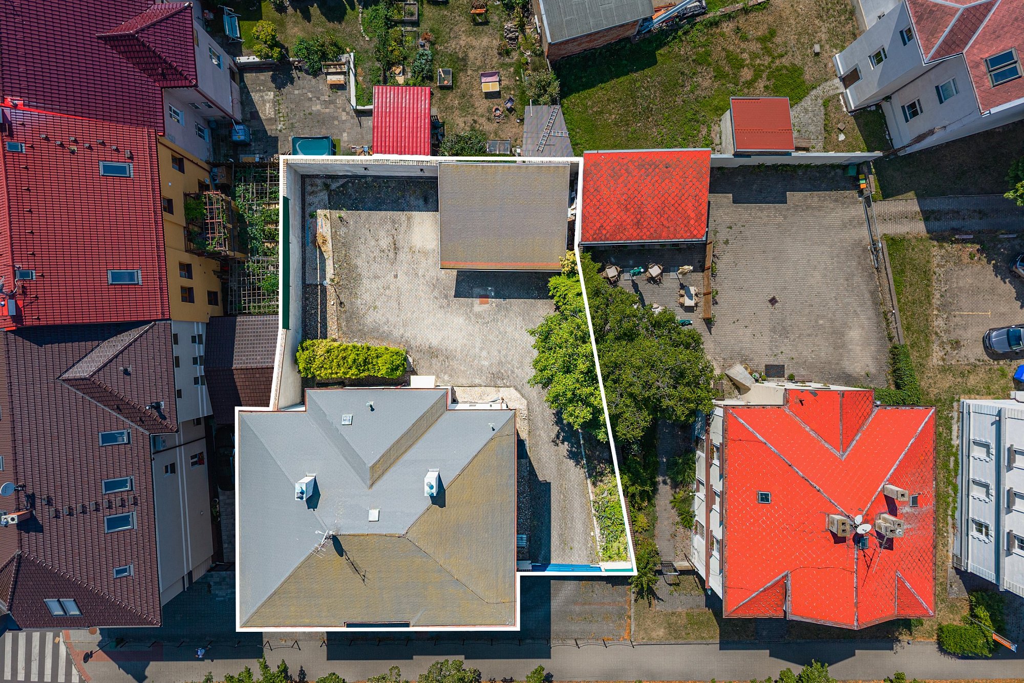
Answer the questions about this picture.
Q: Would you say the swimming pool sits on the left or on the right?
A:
left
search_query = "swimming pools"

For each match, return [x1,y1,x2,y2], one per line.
[291,136,337,157]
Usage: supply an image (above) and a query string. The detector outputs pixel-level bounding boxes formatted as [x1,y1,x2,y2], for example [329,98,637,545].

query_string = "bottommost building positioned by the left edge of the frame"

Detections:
[0,323,215,629]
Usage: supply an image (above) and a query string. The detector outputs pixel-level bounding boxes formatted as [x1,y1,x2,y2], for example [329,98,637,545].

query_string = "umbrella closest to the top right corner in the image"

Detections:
[670,267,694,279]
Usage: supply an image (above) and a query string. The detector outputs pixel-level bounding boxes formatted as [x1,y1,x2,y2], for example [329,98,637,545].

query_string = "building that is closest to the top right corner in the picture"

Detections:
[834,0,1024,156]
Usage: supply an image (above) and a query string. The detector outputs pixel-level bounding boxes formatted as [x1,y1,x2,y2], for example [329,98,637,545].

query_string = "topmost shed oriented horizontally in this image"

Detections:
[537,0,656,57]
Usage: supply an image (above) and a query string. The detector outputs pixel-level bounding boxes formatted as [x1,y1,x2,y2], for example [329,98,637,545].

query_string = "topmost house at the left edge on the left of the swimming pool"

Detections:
[0,0,240,163]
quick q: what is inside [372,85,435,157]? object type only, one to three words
shed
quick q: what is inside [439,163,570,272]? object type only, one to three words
building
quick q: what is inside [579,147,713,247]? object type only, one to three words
building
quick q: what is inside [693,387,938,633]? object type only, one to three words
house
